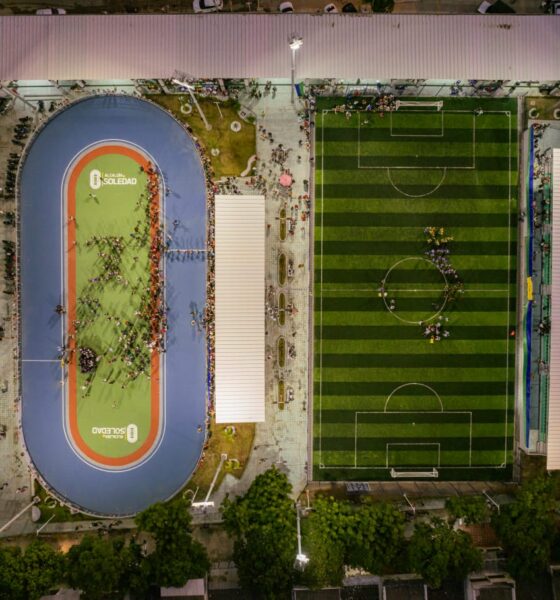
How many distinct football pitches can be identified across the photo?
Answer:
one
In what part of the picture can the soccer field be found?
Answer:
right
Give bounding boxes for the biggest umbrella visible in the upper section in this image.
[279,173,293,186]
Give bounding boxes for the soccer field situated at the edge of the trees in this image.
[311,96,519,482]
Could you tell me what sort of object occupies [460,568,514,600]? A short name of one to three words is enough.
house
